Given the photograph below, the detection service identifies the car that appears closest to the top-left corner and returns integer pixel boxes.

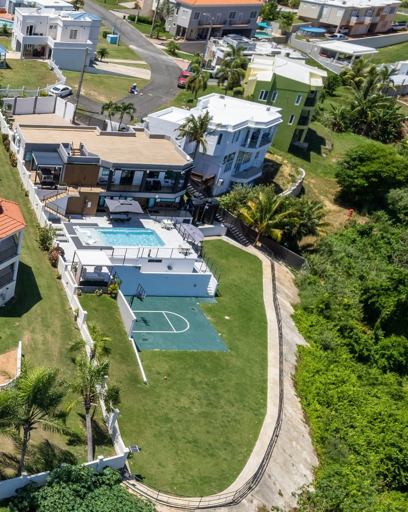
[44,81,76,94]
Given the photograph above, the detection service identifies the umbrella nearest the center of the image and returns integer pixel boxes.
[175,226,207,245]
